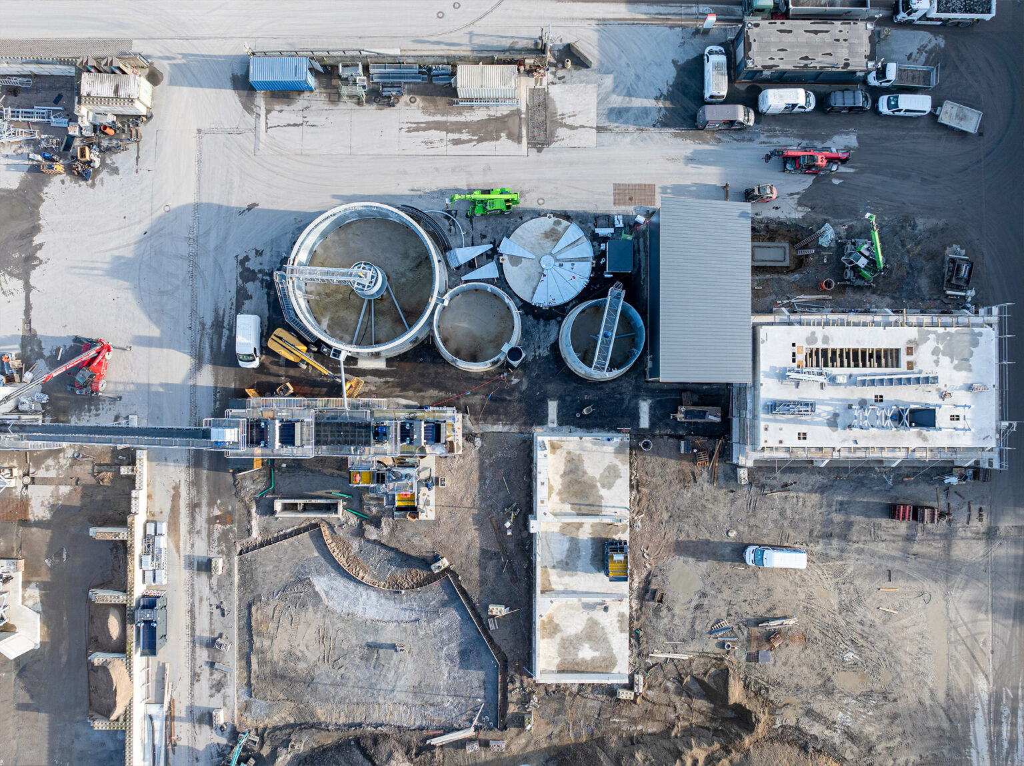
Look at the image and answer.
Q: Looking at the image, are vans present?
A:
Yes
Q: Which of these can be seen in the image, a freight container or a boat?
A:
freight container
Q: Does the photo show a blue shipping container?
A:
Yes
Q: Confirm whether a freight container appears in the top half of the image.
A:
Yes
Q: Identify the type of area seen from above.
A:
industrial area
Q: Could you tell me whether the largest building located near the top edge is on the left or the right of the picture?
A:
right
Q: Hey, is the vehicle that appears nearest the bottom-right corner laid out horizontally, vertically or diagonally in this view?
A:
horizontally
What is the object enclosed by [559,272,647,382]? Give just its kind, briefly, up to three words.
storage tank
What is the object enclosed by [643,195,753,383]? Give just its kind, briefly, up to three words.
building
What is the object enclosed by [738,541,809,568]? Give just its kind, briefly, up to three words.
vehicle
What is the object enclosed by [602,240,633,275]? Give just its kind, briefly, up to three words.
shed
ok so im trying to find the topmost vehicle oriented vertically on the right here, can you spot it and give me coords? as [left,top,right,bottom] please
[701,50,726,106]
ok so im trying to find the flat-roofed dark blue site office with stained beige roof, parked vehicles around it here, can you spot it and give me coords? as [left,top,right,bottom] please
[731,13,884,88]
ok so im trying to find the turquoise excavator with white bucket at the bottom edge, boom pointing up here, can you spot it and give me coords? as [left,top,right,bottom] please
[216,722,262,766]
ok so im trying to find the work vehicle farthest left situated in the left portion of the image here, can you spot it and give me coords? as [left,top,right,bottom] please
[0,332,133,405]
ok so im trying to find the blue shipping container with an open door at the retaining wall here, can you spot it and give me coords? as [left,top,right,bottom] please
[238,39,328,92]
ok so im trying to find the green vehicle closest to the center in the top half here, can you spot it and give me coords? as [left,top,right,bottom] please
[446,189,519,217]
